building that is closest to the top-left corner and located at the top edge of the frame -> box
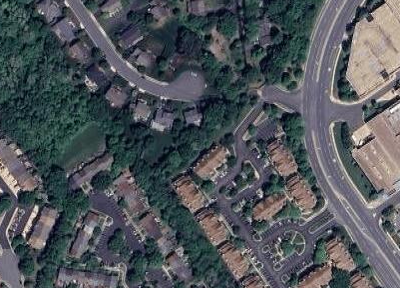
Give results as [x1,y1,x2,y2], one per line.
[37,0,63,22]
